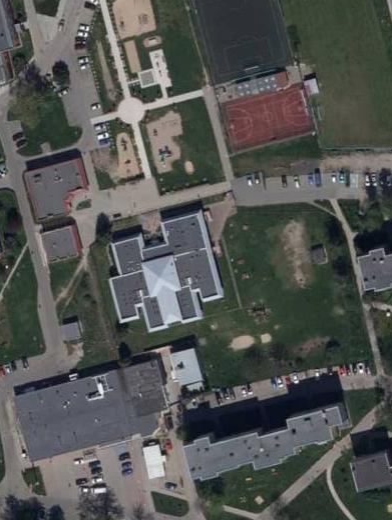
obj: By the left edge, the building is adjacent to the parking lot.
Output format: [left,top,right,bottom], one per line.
[15,370,135,462]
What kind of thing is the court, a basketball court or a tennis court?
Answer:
basketball court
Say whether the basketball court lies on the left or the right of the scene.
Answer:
right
